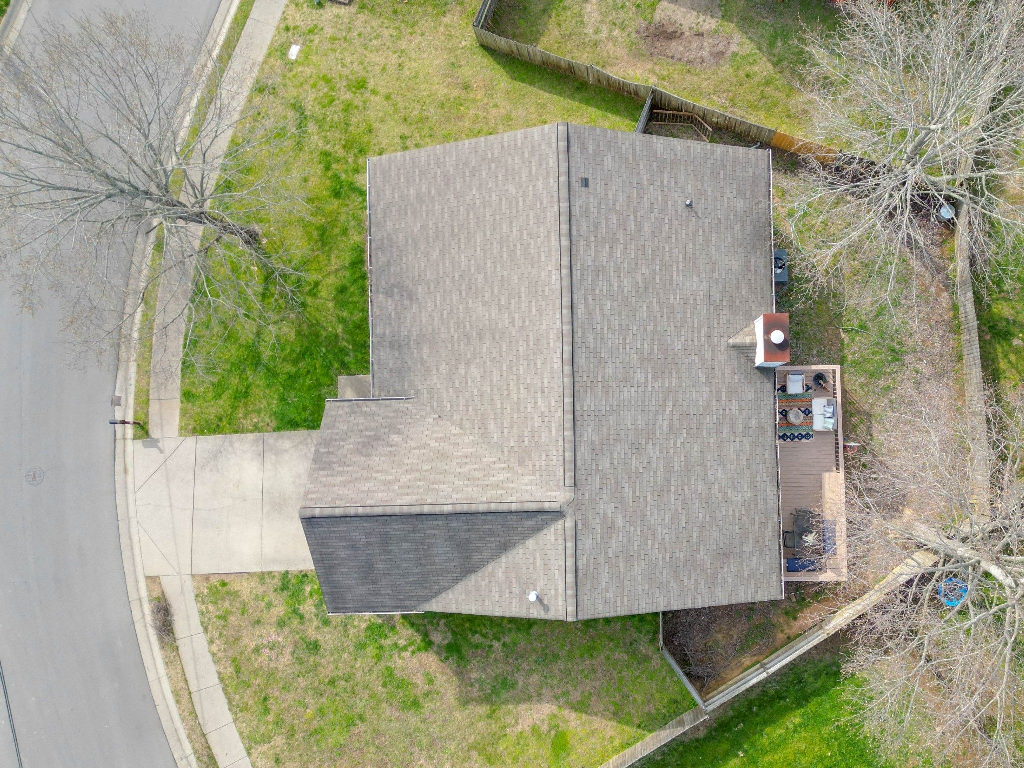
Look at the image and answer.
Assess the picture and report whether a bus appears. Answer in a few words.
No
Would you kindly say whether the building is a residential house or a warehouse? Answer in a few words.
residential house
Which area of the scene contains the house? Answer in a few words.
center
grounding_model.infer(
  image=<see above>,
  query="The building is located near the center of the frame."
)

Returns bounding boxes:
[299,119,791,621]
